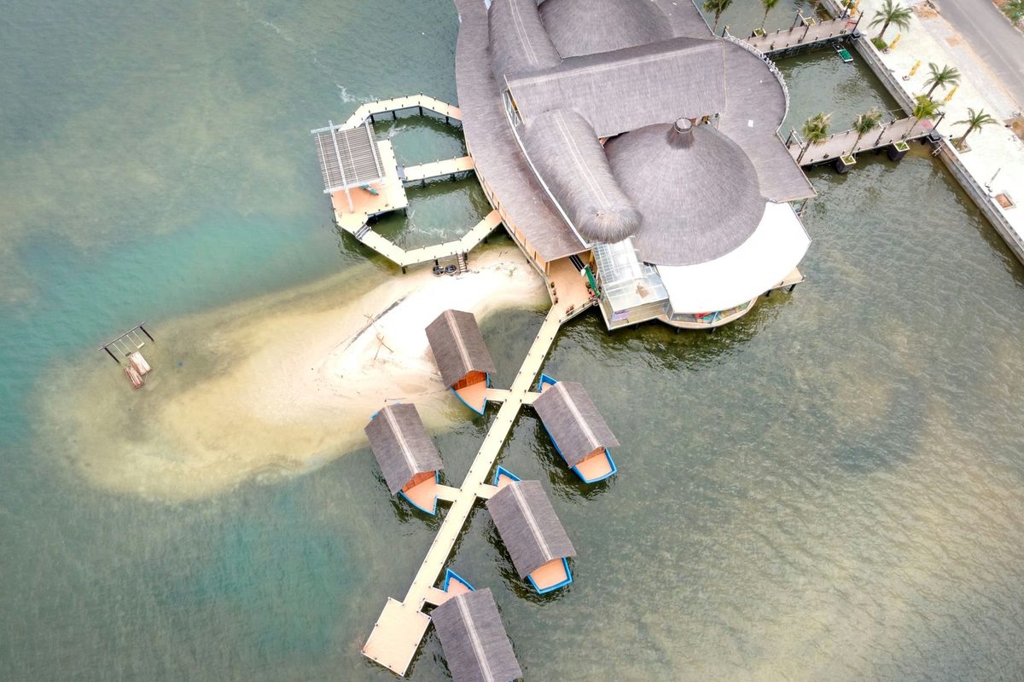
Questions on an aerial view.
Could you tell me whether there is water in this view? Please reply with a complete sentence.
Yes, water shows up in the scene.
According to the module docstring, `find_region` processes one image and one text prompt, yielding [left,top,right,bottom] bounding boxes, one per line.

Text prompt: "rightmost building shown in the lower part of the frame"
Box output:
[534,373,618,488]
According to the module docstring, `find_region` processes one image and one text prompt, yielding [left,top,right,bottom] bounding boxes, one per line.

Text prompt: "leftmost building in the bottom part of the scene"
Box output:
[364,401,445,522]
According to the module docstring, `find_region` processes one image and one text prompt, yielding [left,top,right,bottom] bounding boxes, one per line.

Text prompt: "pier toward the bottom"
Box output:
[362,306,561,676]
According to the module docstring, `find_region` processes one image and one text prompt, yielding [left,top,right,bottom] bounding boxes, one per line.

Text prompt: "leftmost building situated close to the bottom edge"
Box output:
[431,567,523,682]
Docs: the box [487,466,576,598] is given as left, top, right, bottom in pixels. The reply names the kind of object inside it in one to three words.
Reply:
building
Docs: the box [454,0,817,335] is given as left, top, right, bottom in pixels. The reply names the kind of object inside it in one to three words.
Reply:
building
